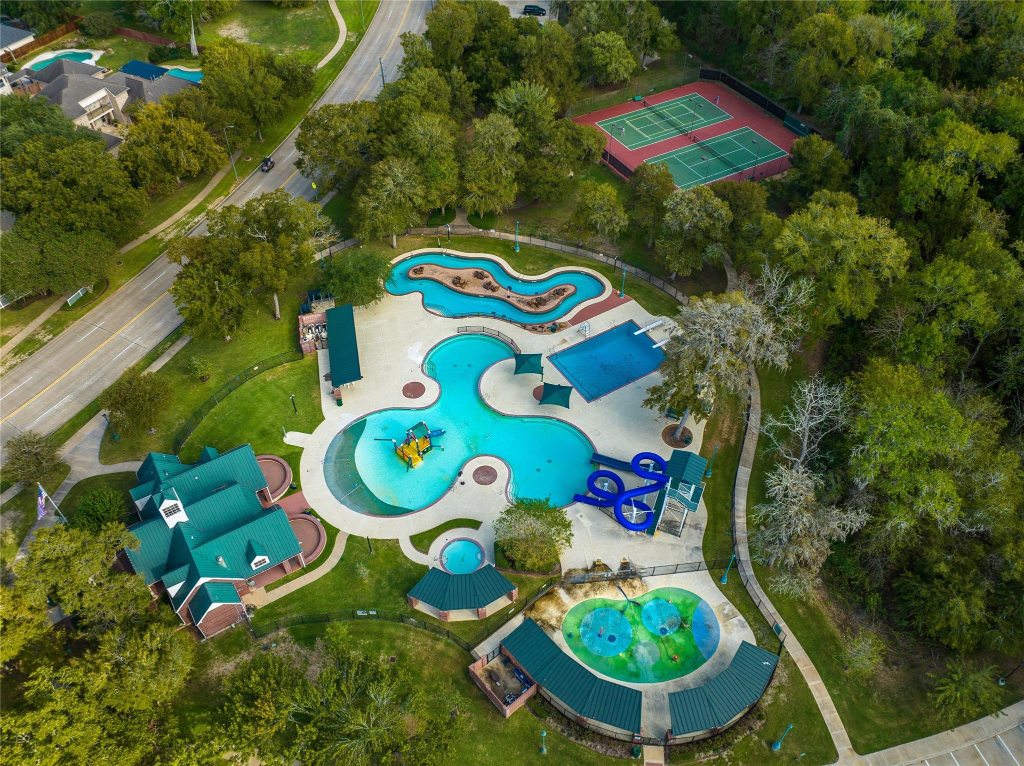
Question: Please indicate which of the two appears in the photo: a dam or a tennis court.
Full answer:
Looking from above, you can make out a tennis court.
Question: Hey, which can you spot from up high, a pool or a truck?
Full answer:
Looking from above, you can make out a pool.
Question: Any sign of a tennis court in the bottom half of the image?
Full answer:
No, no tennis court is visible in the bottom half of the image.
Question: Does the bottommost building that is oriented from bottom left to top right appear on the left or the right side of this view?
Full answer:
The bottommost building that is oriented from bottom left to top right sits on the right side.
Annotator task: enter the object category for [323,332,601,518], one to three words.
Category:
swimming pool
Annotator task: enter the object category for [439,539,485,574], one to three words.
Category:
swimming pool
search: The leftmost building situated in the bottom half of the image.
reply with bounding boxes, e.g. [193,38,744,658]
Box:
[125,440,307,637]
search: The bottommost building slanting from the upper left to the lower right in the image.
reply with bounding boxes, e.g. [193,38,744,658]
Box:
[501,617,644,735]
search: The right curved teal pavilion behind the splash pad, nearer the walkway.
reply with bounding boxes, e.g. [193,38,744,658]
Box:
[663,641,779,744]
